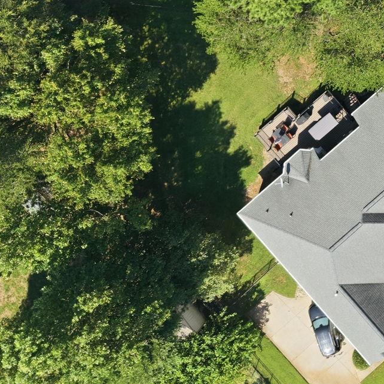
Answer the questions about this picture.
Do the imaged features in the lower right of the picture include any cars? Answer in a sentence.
Yes, a car is visible in the lower right of the picture.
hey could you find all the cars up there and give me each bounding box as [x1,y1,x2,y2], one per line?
[251,292,368,384]
[305,304,339,360]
